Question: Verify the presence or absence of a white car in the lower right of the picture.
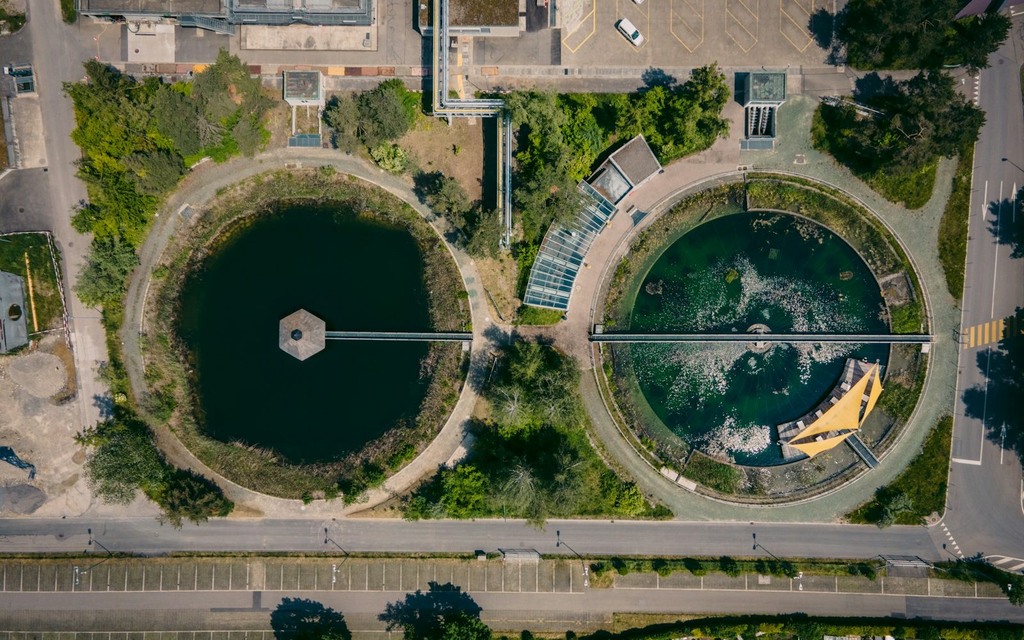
No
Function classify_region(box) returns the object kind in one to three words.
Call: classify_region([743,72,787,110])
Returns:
building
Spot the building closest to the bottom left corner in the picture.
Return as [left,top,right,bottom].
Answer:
[279,308,326,361]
